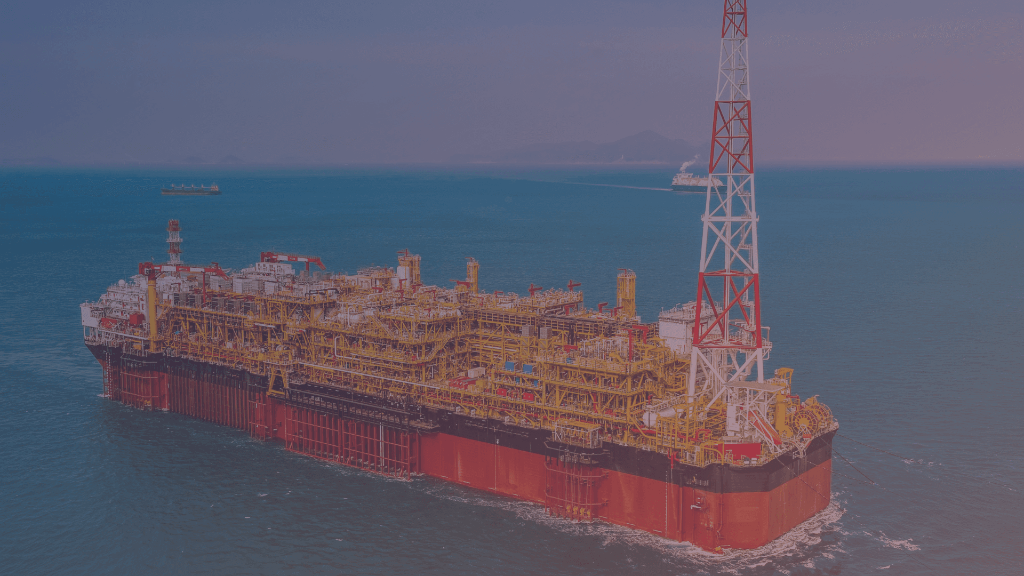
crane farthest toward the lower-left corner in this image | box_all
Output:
[134,256,235,353]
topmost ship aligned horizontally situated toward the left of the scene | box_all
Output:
[162,182,223,194]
